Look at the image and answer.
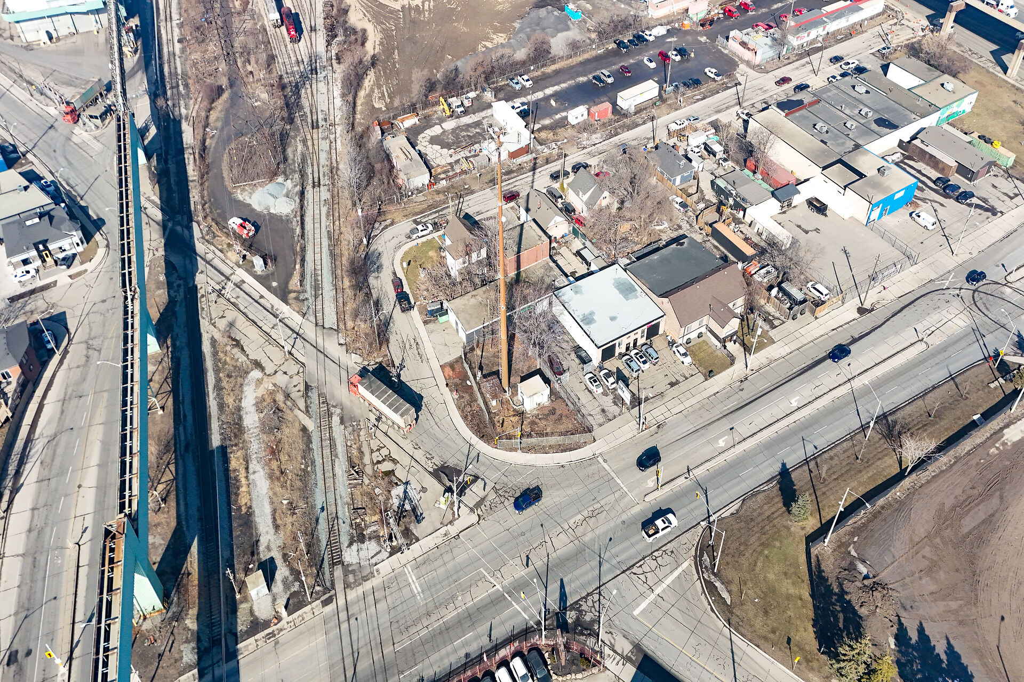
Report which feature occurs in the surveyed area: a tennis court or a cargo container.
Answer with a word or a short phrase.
cargo container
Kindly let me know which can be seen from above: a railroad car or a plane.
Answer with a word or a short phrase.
railroad car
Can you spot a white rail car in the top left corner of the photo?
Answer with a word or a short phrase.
Yes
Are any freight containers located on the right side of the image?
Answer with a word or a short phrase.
Yes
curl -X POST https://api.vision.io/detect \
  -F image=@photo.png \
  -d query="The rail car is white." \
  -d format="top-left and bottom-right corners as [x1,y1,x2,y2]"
[263,0,283,25]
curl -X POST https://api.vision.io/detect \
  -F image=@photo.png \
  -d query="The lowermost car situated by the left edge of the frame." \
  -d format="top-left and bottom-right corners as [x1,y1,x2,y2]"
[41,330,57,350]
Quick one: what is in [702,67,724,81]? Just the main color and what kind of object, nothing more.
white vehicle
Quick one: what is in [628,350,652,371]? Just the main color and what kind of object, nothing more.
white car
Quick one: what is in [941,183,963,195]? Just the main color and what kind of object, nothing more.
blue vehicle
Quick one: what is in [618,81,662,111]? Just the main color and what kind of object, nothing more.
white trailer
